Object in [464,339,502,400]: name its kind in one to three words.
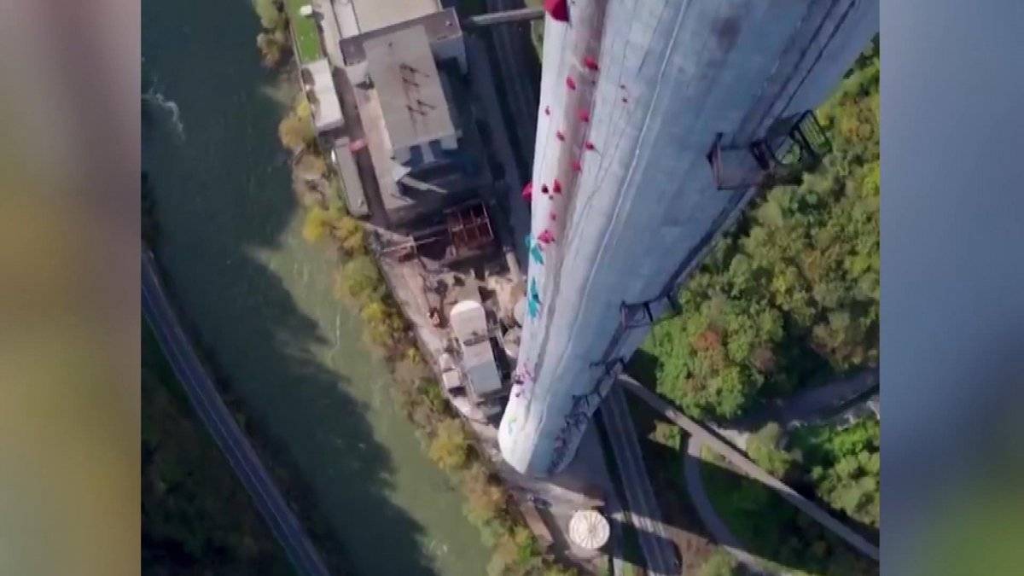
house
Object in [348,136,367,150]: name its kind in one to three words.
vehicle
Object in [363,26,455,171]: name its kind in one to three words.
building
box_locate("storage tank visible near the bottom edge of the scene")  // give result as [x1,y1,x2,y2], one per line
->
[568,509,609,550]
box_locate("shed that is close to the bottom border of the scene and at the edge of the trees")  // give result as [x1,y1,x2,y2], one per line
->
[521,497,555,549]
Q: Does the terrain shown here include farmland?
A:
No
